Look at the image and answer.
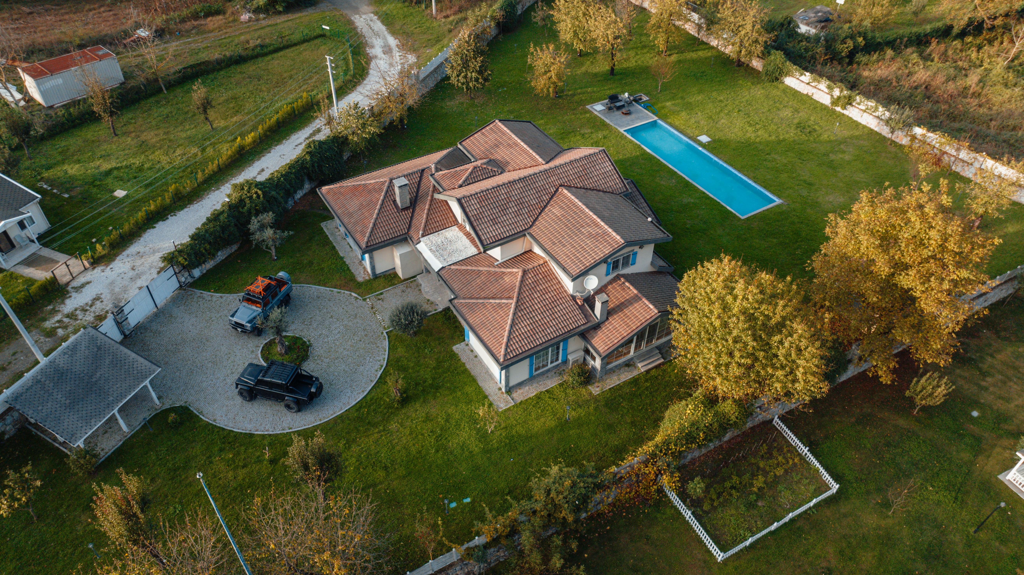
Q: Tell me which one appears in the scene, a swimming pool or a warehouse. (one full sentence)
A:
There is a swimming pool in the scene.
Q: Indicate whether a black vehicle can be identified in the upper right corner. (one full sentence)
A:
No, I can find no black vehicle in the upper right corner.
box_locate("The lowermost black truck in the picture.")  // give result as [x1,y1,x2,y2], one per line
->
[228,355,323,412]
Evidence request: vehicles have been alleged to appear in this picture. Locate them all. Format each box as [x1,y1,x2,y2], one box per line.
[222,271,297,338]
[228,355,323,412]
